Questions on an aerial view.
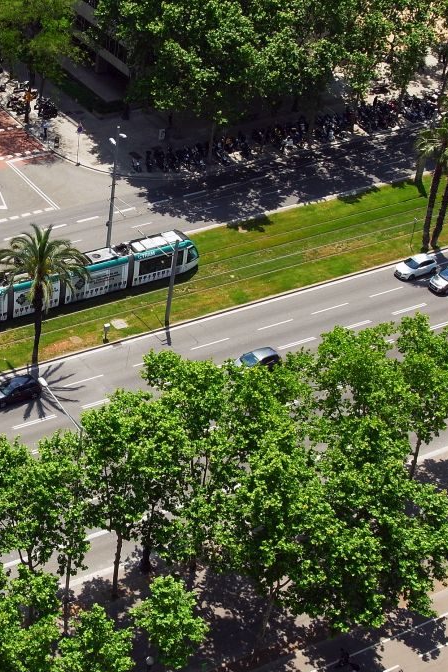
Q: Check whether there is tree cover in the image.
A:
Yes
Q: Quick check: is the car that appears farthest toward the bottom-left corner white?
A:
No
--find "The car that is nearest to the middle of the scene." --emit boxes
[230,345,289,376]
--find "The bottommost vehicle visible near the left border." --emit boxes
[0,370,43,406]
